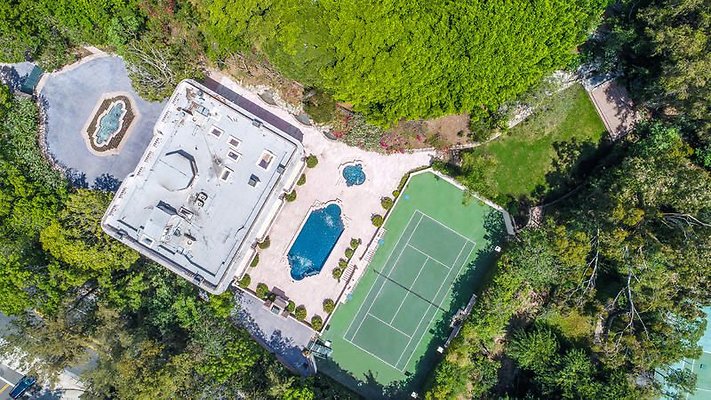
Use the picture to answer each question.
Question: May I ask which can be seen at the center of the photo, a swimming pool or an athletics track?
swimming pool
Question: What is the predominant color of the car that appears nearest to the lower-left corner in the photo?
blue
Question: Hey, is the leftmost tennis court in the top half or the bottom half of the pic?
bottom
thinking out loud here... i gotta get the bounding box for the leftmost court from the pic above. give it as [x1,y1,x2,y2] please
[301,170,513,400]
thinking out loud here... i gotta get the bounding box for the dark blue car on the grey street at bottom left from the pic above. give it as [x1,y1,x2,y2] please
[10,374,37,400]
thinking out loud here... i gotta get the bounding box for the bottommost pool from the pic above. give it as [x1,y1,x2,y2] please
[285,199,346,278]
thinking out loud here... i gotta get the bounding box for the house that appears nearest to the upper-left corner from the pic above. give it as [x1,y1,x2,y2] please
[100,78,309,292]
